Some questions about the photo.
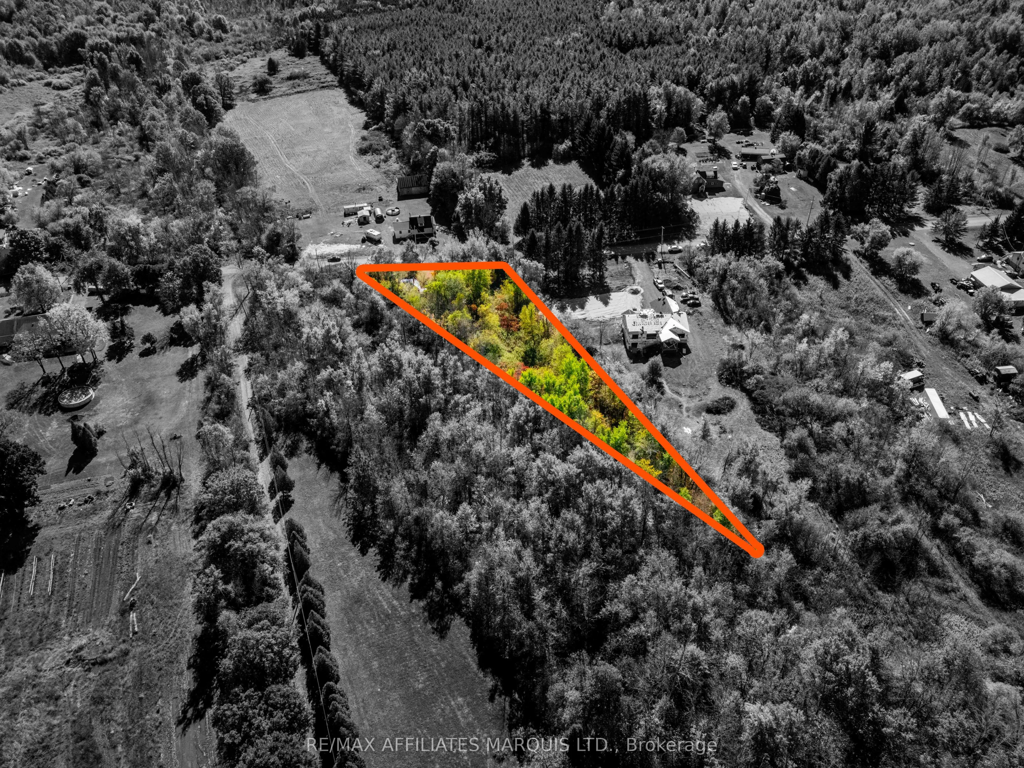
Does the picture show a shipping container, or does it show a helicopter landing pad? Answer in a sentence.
There is a shipping container in the scene.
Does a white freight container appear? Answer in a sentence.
Yes, a white freight container is visible in the scene.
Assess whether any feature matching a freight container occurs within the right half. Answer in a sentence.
Yes, there is a freight container within the right half.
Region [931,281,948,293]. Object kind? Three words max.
vehicle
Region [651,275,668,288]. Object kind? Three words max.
vehicle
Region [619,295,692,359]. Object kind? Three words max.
house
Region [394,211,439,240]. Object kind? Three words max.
house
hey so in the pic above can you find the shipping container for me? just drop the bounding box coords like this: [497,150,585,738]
[922,388,951,428]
